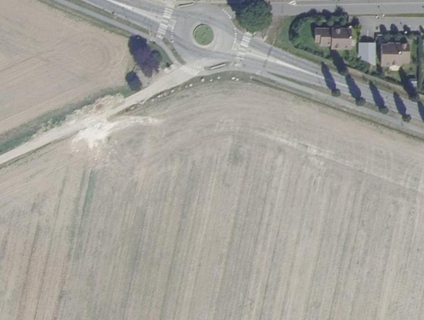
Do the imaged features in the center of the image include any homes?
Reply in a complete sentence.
No, no home appears in the center of the image.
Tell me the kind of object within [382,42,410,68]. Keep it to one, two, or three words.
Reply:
house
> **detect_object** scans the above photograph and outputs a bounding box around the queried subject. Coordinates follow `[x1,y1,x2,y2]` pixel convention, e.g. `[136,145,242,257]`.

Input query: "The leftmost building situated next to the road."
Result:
[314,26,352,50]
